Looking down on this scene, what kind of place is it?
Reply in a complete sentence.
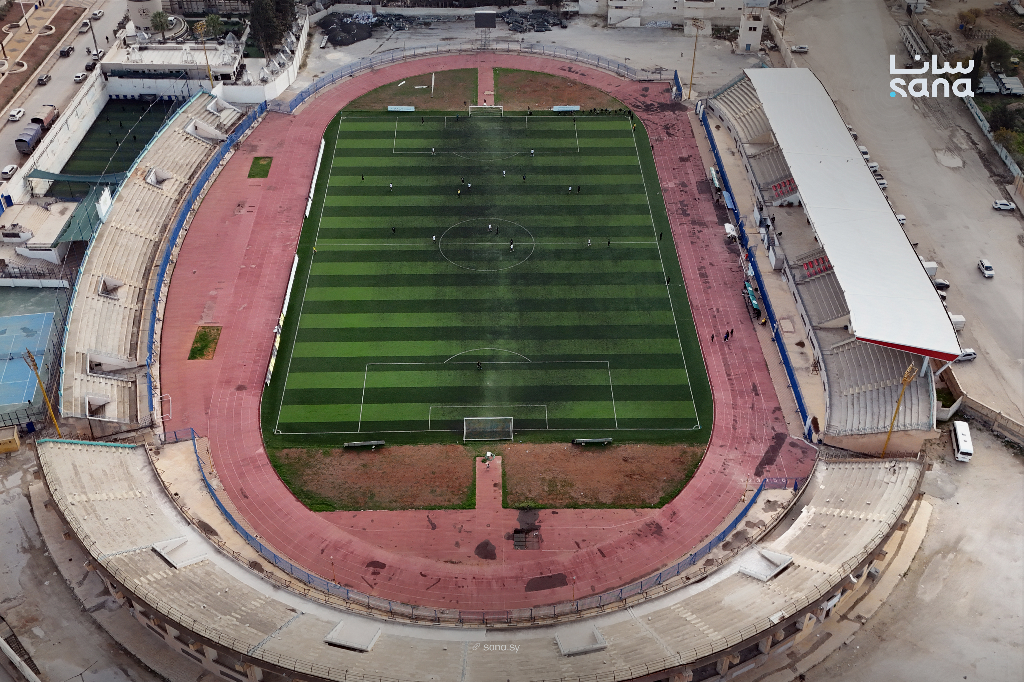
This image shows a sports ground.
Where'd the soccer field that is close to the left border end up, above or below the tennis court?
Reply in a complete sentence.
It's above the tennis court that the soccer field that is close to the left border shows up.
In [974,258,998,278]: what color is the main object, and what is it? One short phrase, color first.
white car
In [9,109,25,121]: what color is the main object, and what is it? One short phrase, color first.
white vehicle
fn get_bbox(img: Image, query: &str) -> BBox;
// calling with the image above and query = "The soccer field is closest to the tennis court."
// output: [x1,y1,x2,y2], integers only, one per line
[48,95,185,197]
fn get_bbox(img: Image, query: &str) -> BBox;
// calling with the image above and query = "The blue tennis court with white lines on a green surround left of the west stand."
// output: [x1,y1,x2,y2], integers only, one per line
[0,289,69,425]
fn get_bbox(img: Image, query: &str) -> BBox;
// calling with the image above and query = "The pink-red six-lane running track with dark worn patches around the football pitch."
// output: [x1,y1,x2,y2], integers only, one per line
[159,53,818,613]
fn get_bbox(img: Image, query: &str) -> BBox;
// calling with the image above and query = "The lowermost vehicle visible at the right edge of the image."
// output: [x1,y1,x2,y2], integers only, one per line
[950,423,973,467]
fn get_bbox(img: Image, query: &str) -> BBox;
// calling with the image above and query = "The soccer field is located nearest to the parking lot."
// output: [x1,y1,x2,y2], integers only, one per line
[263,106,712,468]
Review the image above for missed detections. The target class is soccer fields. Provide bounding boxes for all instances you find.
[263,106,712,468]
[48,95,185,197]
